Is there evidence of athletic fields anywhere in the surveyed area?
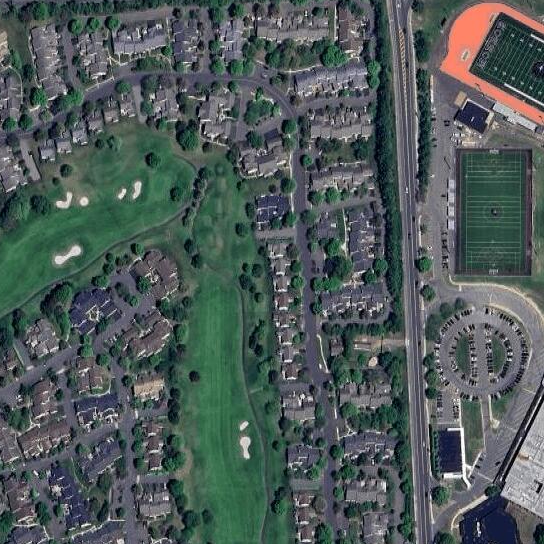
Yes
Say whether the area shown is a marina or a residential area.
residential area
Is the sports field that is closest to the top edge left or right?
right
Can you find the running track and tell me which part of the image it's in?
top right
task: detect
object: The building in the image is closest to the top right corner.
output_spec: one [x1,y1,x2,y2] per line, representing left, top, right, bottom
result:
[454,93,493,131]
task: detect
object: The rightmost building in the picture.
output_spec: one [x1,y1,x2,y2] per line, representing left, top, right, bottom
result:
[501,422,544,523]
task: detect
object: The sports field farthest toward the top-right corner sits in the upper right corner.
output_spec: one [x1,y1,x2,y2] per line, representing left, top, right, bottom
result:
[469,11,544,111]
